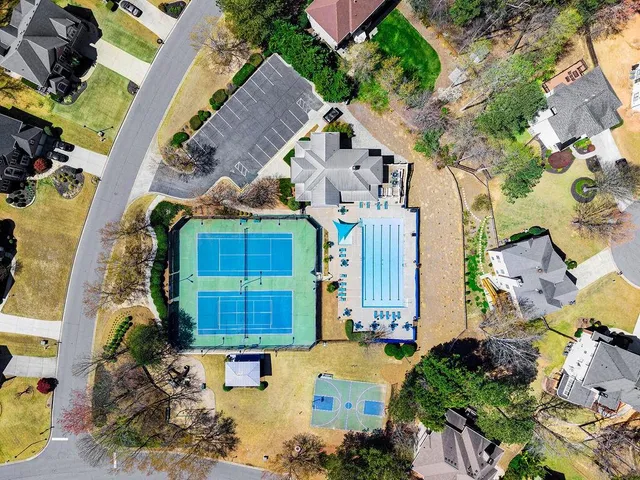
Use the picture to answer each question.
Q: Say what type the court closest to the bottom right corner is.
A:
basketball court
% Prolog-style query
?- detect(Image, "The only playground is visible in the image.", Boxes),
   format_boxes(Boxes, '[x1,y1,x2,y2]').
[157,355,216,424]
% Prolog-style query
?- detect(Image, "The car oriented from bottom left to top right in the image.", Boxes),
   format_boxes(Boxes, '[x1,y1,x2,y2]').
[324,107,341,122]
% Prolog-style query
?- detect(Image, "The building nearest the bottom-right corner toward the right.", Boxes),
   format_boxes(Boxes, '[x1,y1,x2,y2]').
[549,329,640,421]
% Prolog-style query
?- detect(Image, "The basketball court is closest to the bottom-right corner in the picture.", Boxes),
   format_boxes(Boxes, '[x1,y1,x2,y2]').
[311,378,387,434]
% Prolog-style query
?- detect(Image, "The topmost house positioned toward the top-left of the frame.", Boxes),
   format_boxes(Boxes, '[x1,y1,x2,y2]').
[0,0,90,92]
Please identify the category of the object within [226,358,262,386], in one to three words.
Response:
building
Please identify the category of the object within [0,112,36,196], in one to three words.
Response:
house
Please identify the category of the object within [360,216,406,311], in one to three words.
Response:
swimming pool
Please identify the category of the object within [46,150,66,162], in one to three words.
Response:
vehicle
